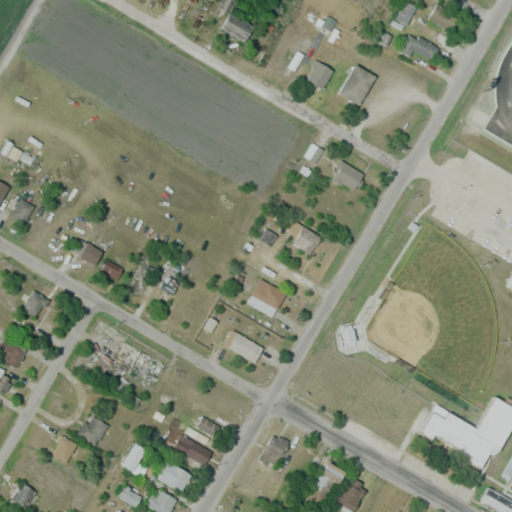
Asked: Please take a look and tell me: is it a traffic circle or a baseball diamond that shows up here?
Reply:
baseball diamond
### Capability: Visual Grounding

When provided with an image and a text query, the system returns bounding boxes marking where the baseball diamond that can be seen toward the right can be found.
[366,226,497,404]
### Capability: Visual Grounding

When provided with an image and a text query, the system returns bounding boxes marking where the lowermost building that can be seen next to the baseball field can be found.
[422,398,512,469]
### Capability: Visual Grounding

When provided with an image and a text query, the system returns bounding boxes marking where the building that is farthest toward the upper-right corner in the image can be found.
[426,6,456,30]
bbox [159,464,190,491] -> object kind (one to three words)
house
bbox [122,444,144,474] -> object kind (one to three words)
house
